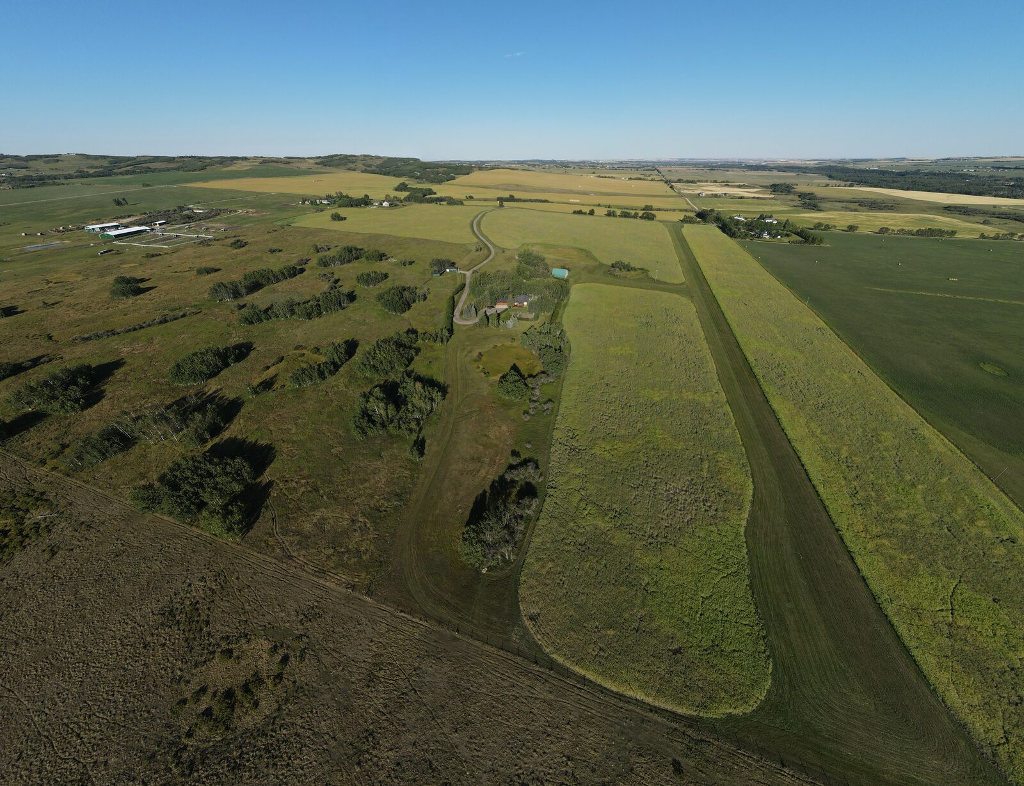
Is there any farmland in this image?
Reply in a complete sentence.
Yes, farmland can be seen from above here.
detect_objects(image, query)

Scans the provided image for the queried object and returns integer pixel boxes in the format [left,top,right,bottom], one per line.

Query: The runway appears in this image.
[670,224,1008,786]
